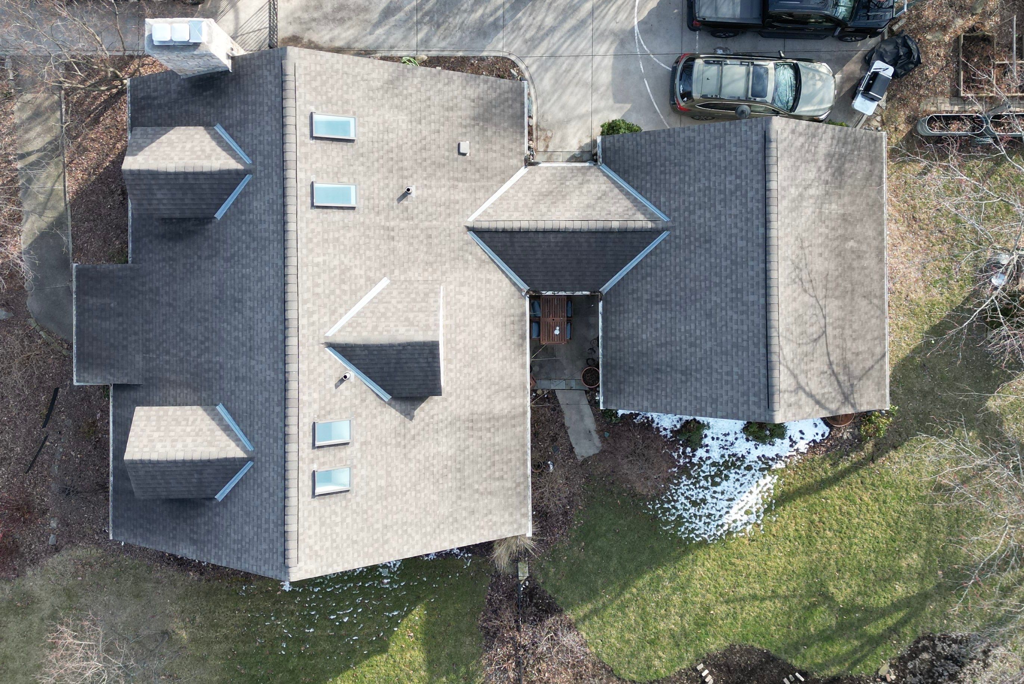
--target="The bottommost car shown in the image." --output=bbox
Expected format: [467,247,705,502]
[667,45,840,123]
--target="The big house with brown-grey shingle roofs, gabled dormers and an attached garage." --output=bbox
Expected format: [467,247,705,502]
[71,17,894,582]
